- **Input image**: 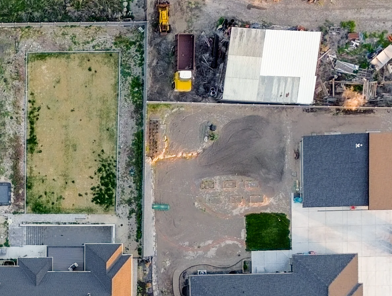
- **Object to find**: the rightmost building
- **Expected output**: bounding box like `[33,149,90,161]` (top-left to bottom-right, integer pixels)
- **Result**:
[291,132,392,211]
